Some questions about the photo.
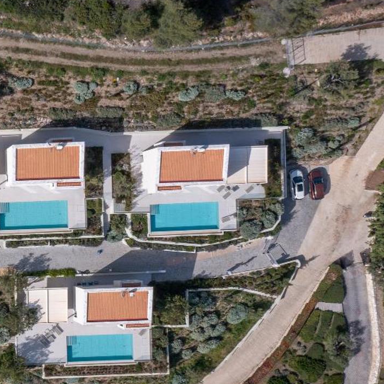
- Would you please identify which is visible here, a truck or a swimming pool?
swimming pool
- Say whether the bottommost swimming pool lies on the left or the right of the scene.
left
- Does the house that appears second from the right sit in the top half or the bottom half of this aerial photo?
bottom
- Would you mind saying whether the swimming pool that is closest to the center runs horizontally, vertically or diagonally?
horizontally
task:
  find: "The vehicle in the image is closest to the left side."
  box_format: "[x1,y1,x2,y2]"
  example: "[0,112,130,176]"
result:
[289,168,308,199]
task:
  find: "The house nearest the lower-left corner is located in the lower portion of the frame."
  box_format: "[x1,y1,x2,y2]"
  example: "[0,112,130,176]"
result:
[74,280,153,329]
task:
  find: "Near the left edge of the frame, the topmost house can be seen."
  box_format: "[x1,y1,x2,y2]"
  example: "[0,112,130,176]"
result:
[6,139,85,191]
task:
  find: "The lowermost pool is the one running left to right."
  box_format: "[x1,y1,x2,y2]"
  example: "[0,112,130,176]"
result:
[67,334,131,362]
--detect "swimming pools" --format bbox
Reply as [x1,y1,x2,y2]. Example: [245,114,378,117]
[67,334,131,362]
[150,202,218,233]
[0,201,67,232]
